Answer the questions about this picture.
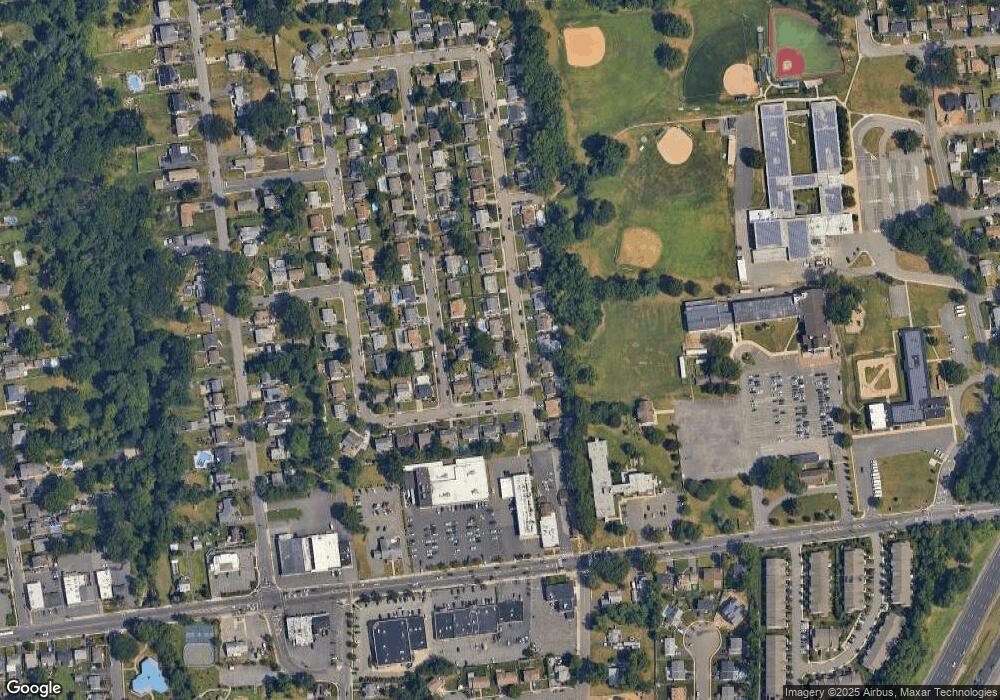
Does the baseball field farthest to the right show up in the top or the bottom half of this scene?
top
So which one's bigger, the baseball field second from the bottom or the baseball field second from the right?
the baseball field second from the right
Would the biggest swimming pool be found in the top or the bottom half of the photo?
bottom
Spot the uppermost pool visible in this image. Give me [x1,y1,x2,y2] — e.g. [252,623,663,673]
[128,73,144,93]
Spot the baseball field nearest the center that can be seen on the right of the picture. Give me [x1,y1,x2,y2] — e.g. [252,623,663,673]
[618,226,662,268]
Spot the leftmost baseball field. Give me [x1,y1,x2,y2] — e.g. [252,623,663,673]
[561,24,606,66]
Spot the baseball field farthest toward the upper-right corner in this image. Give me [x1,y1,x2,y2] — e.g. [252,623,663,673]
[770,8,845,81]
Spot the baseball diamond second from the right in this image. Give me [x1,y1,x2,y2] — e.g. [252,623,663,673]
[684,23,764,99]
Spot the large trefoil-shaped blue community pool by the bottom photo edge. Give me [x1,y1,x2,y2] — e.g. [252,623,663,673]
[131,656,169,694]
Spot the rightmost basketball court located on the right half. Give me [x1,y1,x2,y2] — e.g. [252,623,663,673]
[889,285,909,318]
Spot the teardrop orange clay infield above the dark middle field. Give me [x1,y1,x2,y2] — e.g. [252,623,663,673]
[656,123,693,164]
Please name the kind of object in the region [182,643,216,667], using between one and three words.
sports court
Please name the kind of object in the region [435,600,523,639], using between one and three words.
building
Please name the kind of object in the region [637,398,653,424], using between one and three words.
house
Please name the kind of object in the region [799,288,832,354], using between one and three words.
building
